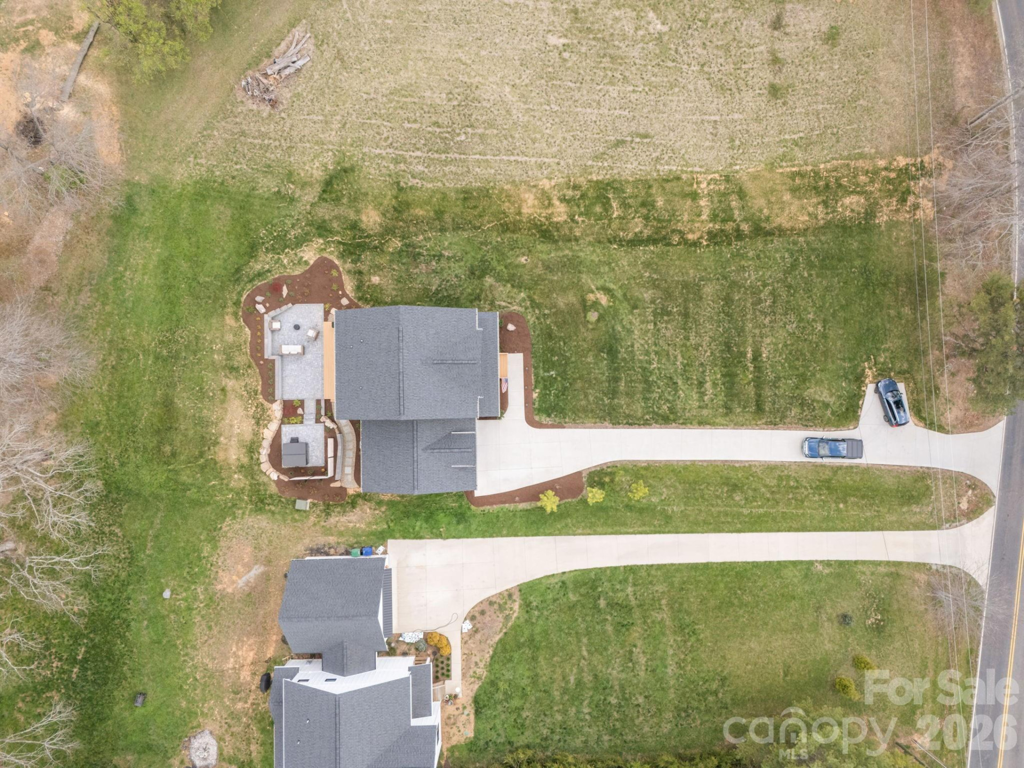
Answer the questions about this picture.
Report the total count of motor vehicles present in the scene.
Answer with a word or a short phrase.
two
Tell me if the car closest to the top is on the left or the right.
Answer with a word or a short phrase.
right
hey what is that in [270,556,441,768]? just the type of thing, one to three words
house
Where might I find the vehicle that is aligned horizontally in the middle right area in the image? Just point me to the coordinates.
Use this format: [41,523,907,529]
[800,436,862,462]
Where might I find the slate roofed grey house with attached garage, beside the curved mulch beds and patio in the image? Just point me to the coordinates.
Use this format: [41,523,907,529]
[333,306,501,494]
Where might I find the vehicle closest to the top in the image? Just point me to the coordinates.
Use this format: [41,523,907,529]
[876,378,912,430]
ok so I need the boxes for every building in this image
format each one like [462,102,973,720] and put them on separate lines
[333,306,501,494]
[270,556,441,768]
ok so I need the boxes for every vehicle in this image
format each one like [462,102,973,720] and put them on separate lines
[876,378,912,430]
[800,436,862,462]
